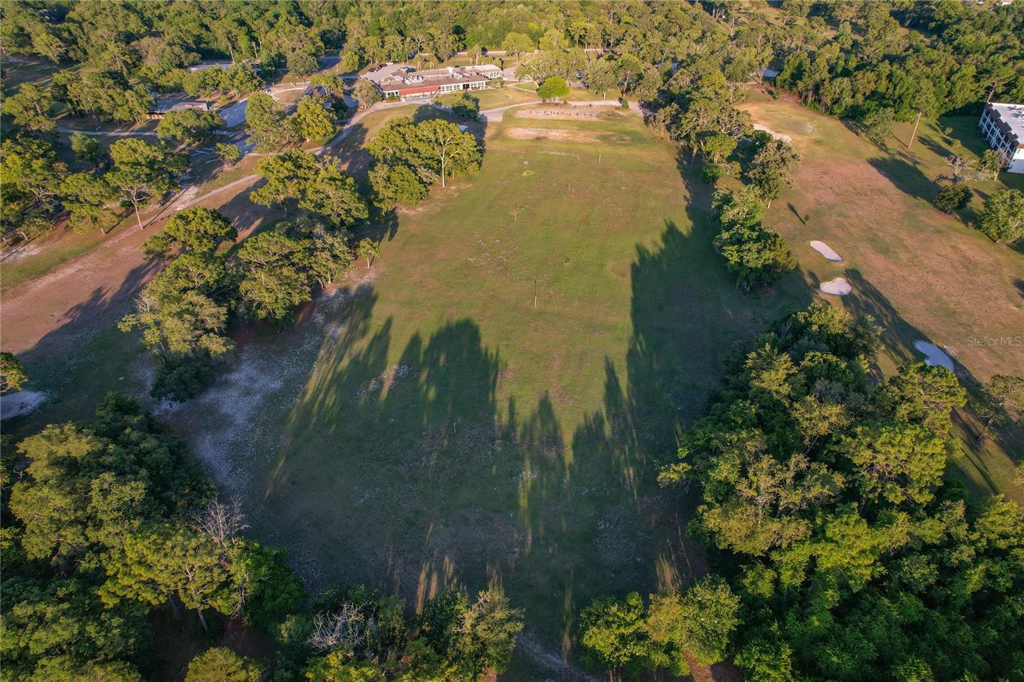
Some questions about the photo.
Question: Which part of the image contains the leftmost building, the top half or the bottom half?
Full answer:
Seen from above, the leftmost building lies in the top half of the view.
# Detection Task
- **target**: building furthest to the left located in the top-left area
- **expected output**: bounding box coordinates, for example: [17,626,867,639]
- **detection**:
[145,93,206,116]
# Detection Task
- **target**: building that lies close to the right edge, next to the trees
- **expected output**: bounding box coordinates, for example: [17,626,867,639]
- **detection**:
[978,102,1024,181]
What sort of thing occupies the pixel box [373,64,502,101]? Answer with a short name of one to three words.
building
